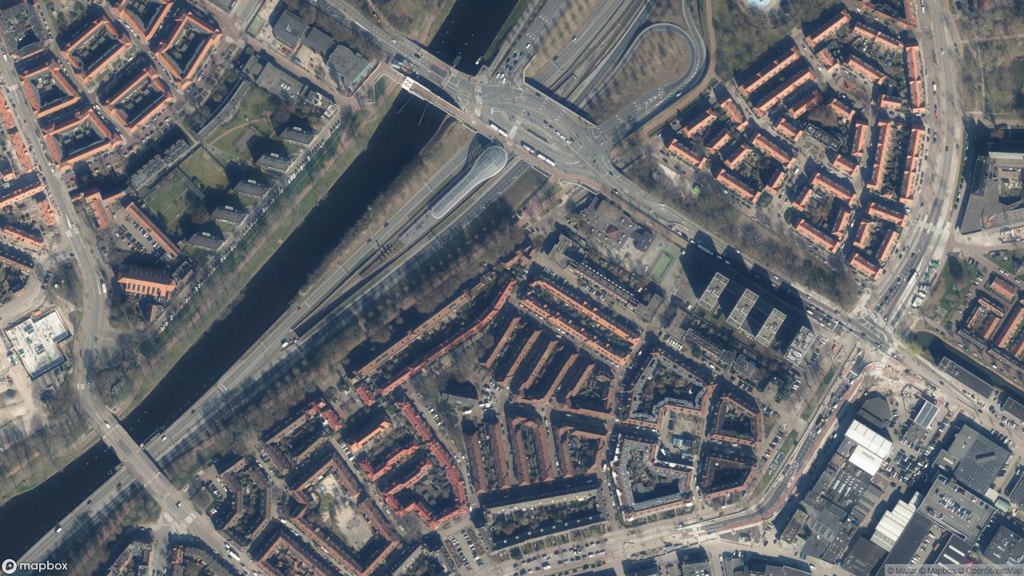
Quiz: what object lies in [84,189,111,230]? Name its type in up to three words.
house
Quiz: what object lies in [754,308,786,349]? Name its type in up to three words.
building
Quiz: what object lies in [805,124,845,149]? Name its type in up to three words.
building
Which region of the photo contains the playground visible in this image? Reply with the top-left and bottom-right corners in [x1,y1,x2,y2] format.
[318,474,374,551]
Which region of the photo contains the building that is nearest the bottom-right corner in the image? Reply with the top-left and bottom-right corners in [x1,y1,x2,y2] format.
[984,526,1024,572]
